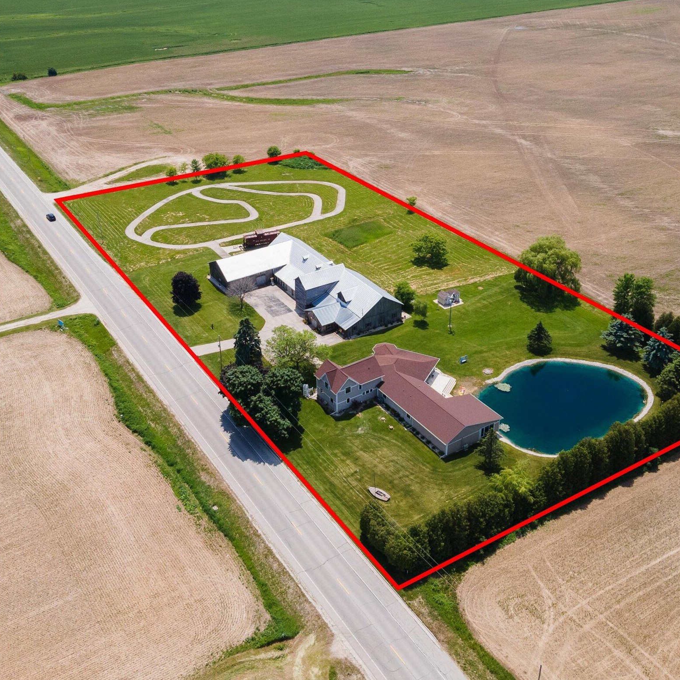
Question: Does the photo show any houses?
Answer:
Yes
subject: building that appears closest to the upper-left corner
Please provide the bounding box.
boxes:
[207,232,403,340]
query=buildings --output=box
[313,342,503,458]
[437,286,458,305]
[207,232,403,340]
